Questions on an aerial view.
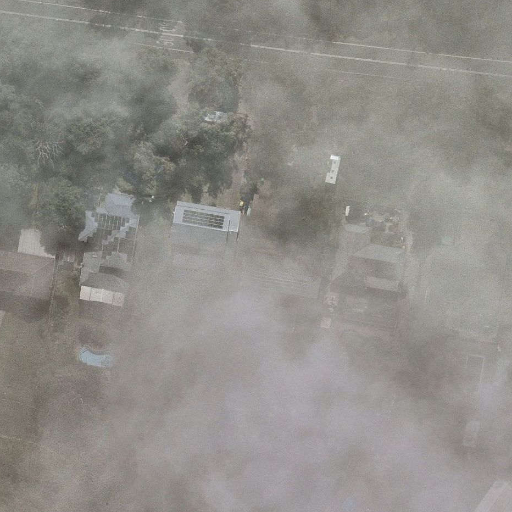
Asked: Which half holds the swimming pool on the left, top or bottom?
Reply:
bottom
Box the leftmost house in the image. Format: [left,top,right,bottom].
[0,229,59,300]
